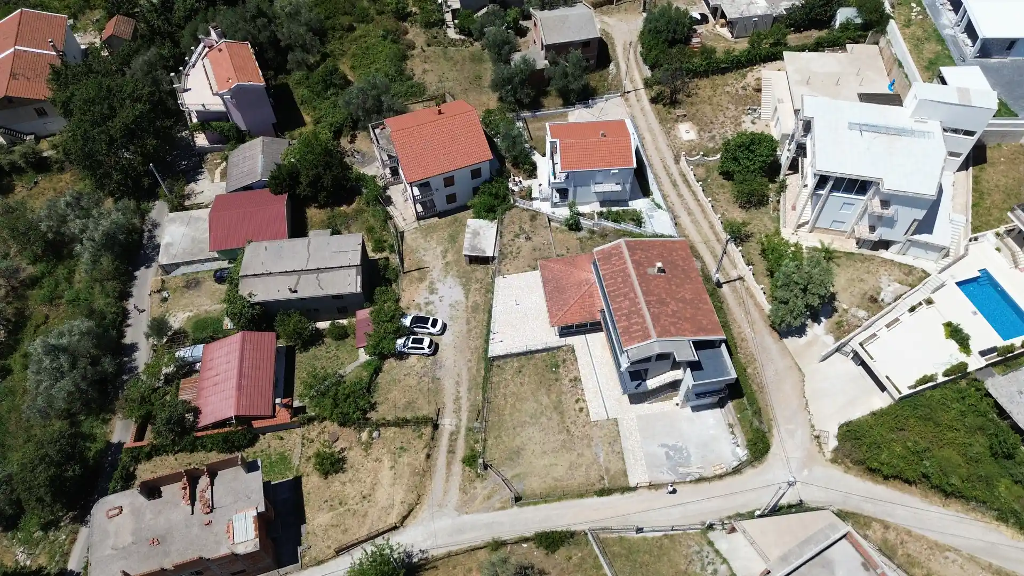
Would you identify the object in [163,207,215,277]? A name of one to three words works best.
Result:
building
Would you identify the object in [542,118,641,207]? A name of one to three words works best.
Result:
house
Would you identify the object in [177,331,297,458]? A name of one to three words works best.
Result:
house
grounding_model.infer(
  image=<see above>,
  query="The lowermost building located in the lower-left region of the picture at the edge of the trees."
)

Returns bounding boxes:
[88,453,283,576]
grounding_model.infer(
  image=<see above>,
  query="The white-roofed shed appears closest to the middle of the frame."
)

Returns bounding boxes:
[463,219,500,265]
